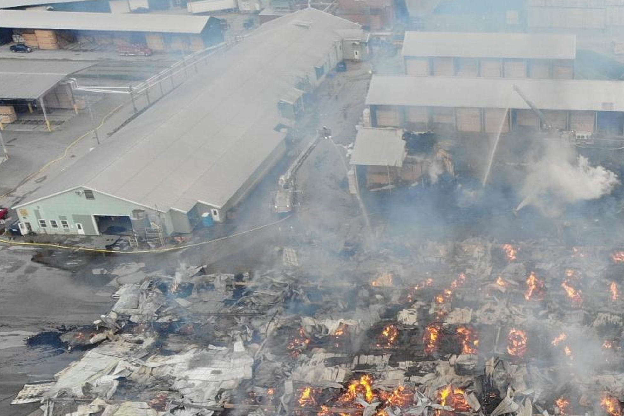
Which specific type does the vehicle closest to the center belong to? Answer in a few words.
truck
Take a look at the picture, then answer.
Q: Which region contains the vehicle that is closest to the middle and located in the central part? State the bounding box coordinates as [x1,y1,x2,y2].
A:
[273,125,330,209]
